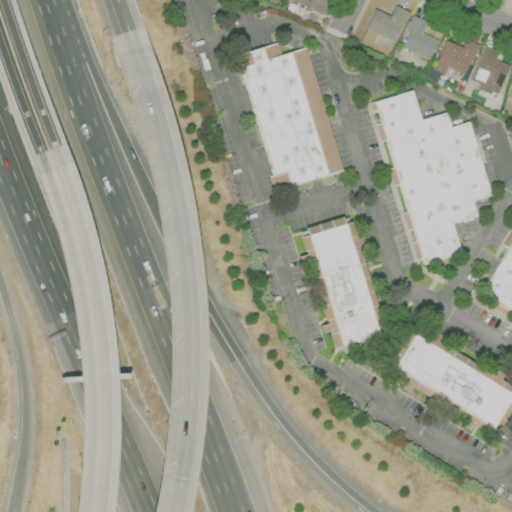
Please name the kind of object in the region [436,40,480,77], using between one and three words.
house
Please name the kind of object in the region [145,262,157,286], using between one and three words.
vehicle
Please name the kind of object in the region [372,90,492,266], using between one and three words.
building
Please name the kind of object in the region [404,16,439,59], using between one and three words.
house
